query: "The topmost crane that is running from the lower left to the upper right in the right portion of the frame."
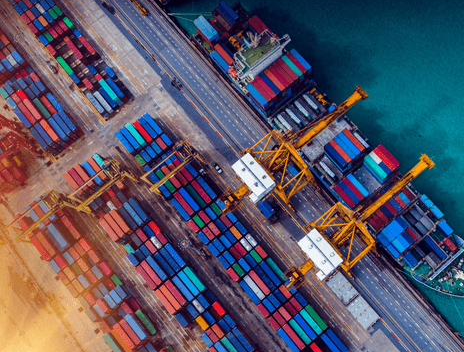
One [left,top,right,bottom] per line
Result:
[217,89,364,214]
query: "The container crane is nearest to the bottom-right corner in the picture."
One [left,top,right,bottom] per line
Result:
[282,155,430,288]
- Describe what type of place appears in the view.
port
